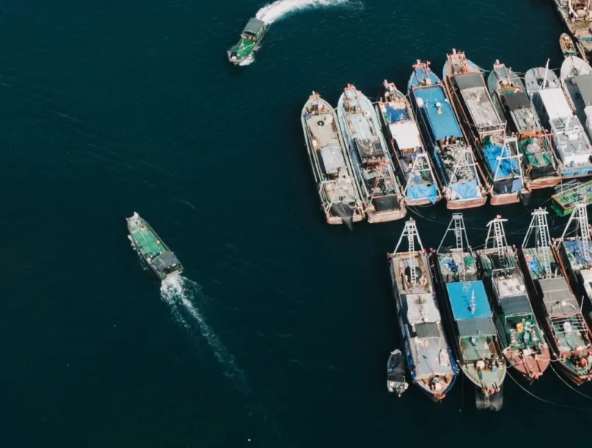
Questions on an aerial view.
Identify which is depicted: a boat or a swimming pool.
boat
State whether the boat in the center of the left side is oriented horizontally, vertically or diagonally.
diagonally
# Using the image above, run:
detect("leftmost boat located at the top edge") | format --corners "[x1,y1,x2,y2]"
[231,12,269,72]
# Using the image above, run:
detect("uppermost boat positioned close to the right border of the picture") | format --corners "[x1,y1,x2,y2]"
[561,33,580,63]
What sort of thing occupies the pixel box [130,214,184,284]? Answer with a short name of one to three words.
boat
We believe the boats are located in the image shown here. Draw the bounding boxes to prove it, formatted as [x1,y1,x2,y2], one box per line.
[411,56,484,209]
[386,352,410,397]
[377,76,442,209]
[533,64,592,182]
[558,195,592,338]
[391,210,452,406]
[561,33,580,63]
[564,53,592,151]
[341,79,404,226]
[439,208,501,403]
[130,214,184,284]
[231,12,269,72]
[446,45,525,205]
[304,87,363,228]
[480,201,543,389]
[489,56,560,192]
[550,177,592,217]
[522,199,590,389]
